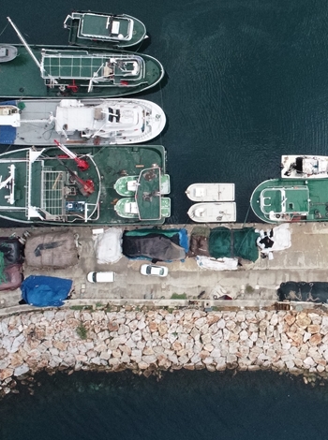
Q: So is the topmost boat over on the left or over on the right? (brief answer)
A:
left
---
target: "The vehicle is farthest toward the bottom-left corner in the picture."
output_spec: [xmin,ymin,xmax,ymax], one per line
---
[88,270,116,283]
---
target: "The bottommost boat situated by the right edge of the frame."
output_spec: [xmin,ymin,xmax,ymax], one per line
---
[250,179,328,223]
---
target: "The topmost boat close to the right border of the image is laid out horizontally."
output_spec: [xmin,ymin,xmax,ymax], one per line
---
[279,156,328,178]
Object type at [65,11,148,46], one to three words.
boat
